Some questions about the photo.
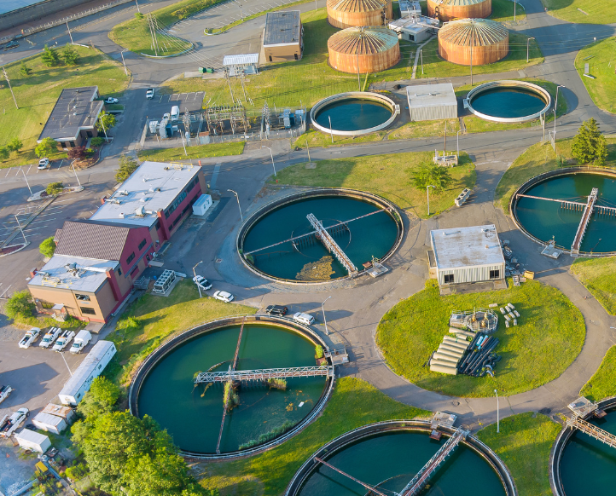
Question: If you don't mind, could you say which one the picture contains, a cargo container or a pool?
cargo container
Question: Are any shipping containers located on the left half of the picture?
Yes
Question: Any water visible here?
Yes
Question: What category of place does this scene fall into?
industrial area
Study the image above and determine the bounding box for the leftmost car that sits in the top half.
[35,153,52,168]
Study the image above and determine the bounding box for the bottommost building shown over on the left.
[23,159,208,327]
